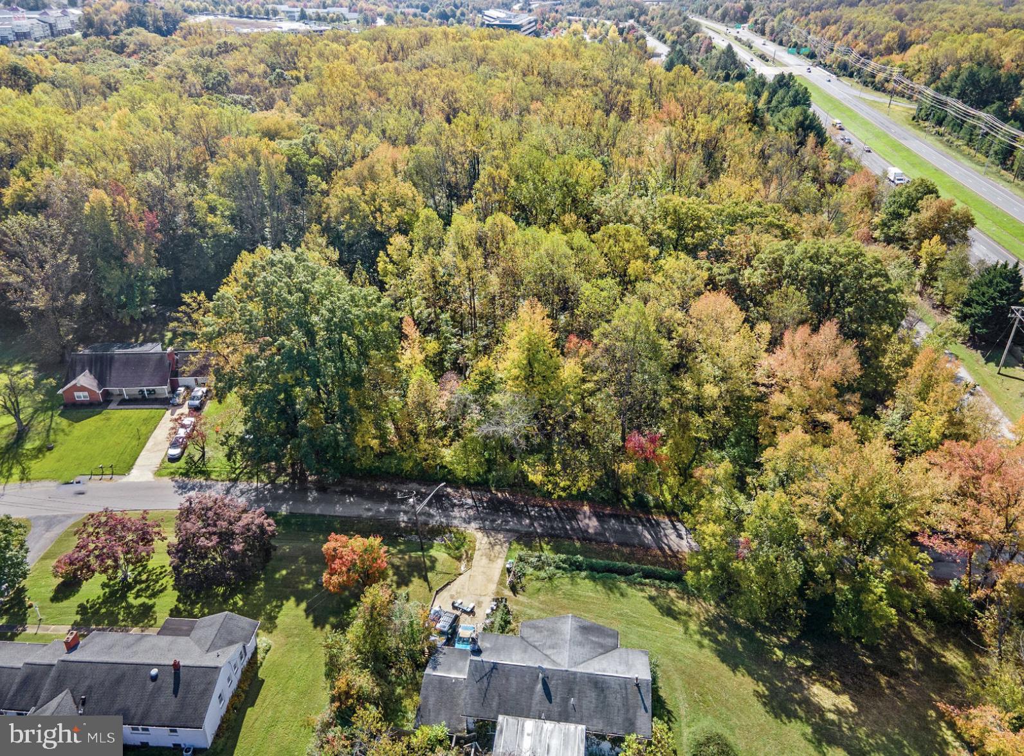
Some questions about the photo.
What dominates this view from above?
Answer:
trees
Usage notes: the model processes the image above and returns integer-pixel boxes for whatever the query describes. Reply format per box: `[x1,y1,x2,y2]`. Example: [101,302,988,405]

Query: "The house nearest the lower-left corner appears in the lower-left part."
[0,606,255,756]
